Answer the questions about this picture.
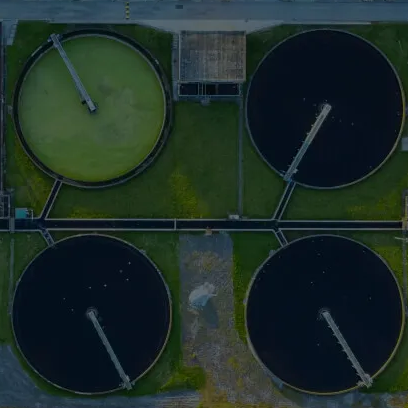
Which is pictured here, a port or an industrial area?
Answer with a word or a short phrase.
industrial area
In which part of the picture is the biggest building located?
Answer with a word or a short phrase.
top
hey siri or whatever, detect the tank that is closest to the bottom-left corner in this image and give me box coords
[12,234,173,394]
